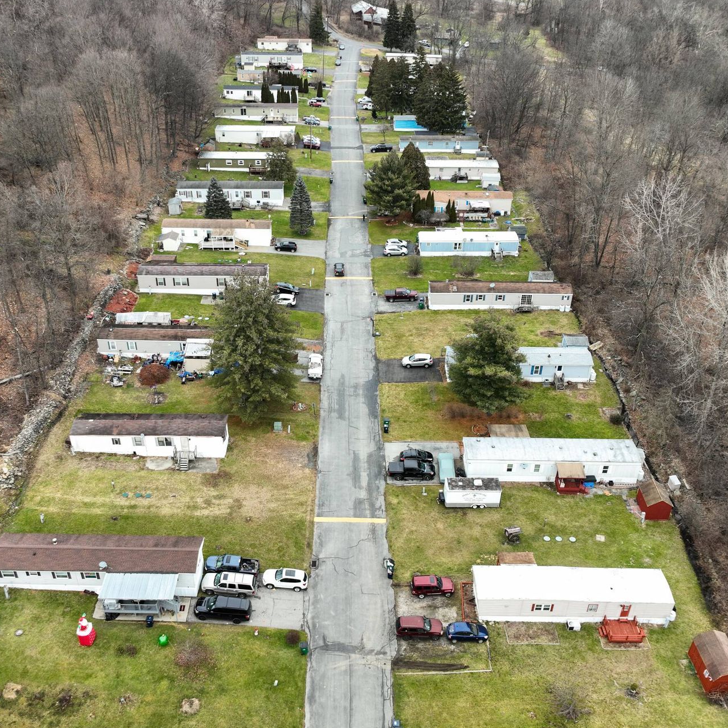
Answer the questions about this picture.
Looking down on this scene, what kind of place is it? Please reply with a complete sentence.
What you see here is a residential area.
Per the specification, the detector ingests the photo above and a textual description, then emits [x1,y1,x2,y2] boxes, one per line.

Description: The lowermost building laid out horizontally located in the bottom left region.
[0,532,208,615]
